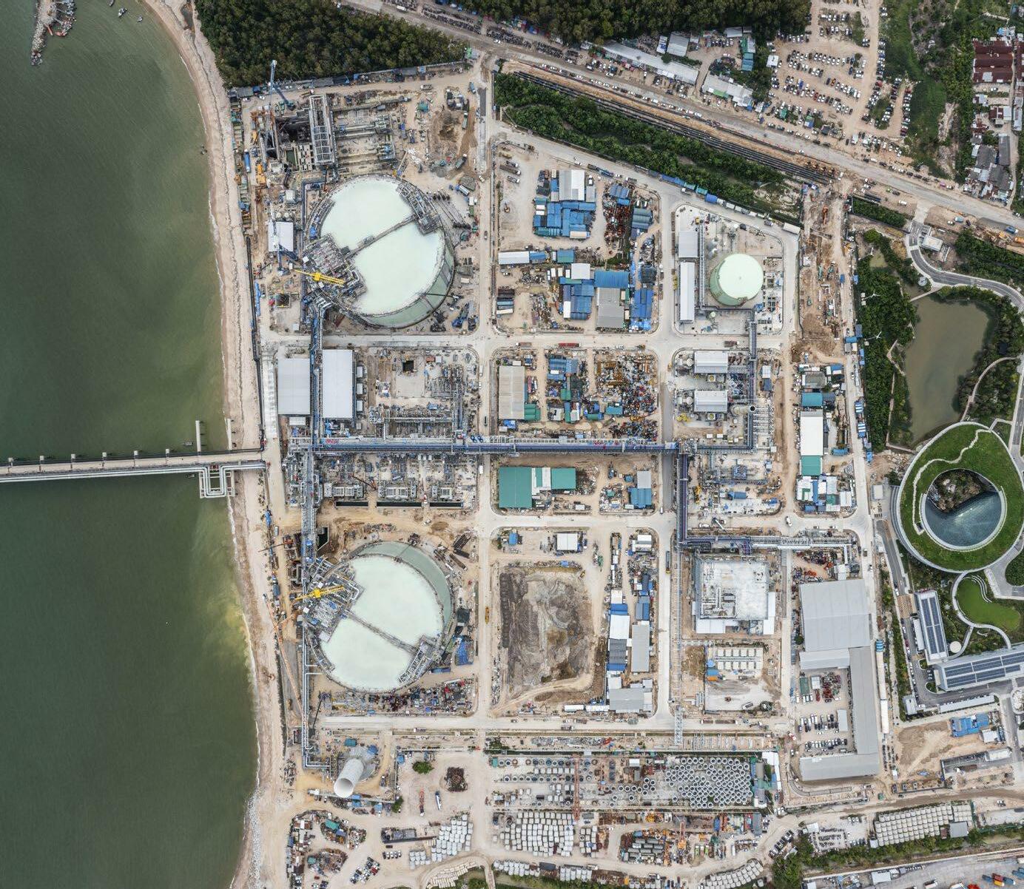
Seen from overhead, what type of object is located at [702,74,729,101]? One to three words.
shed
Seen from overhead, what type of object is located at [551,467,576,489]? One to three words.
building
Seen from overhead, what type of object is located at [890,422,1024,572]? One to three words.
building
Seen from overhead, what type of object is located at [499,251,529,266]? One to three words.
shed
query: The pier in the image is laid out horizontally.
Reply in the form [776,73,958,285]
[0,448,276,498]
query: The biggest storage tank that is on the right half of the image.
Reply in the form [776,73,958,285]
[707,254,765,307]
